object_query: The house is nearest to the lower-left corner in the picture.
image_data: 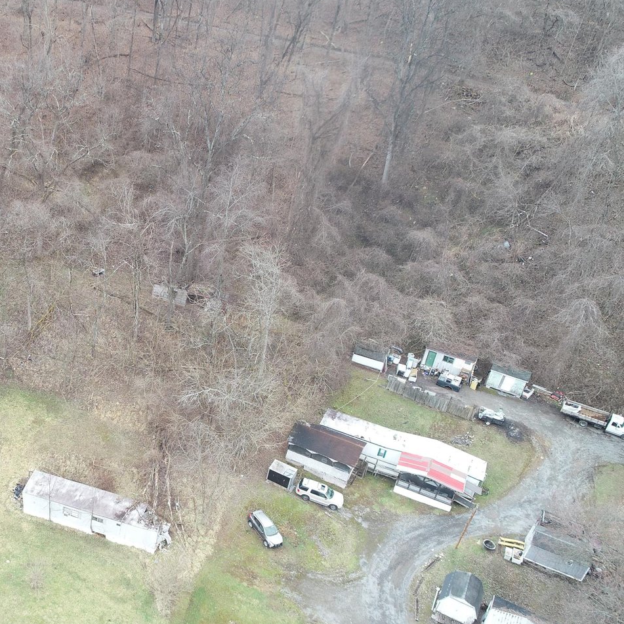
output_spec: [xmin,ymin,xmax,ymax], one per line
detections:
[22,468,175,549]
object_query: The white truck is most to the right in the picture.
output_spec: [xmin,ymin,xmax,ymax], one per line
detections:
[563,400,624,441]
